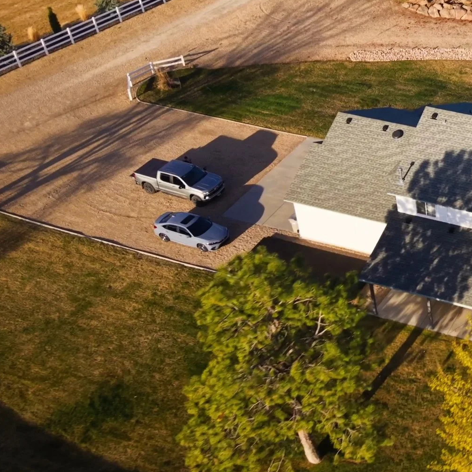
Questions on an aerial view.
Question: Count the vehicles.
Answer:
2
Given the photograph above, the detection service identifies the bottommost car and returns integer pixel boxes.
[149,210,231,252]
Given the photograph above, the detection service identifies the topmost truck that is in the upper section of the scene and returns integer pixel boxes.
[132,158,231,205]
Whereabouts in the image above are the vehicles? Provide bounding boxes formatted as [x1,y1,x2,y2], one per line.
[132,158,231,205]
[149,210,231,252]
